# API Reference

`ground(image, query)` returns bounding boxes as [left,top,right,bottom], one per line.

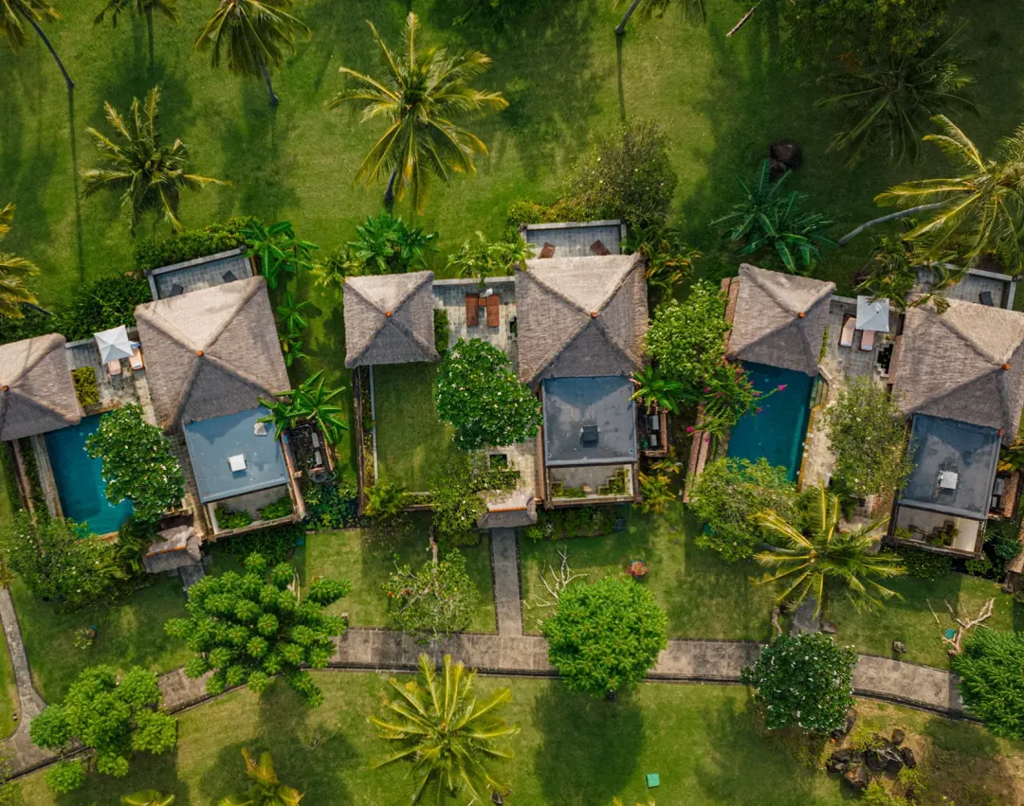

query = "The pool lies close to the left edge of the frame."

[44,410,130,541]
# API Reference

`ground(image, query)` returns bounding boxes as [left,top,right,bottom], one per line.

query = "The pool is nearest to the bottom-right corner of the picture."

[719,360,831,491]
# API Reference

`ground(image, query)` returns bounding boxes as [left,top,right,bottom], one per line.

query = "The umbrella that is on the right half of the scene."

[853,295,889,332]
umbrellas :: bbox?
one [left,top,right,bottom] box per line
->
[94,325,134,364]
[853,295,889,332]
